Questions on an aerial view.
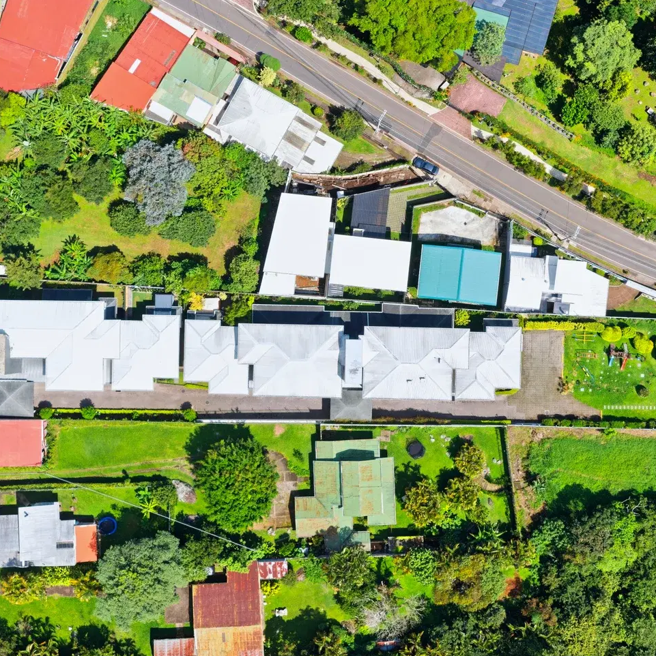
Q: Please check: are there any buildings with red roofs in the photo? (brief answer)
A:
Yes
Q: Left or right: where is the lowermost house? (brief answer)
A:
left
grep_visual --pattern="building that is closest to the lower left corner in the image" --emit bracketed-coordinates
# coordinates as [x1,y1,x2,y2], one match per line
[0,501,100,567]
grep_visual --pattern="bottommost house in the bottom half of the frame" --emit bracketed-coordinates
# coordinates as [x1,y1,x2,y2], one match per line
[154,558,288,656]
